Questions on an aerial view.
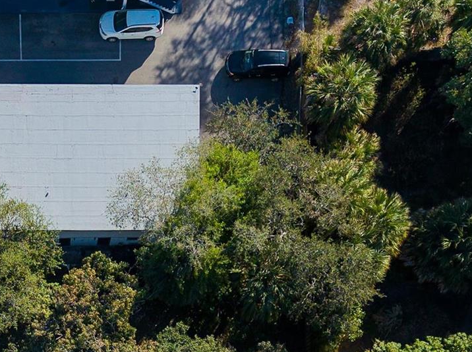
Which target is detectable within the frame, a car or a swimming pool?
car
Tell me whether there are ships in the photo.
No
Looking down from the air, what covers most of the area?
trees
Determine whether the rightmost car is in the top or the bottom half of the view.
top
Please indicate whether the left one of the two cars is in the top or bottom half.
top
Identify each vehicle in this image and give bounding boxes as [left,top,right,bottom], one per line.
[98,6,164,42]
[222,44,292,80]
